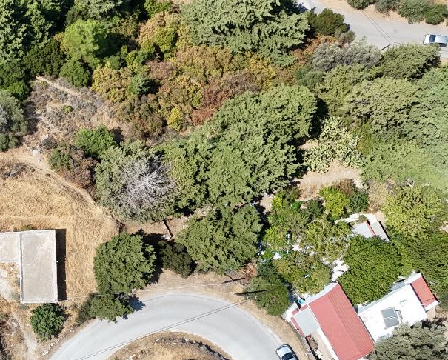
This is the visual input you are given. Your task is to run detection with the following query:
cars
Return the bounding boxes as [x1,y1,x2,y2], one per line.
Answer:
[276,344,295,360]
[419,32,448,47]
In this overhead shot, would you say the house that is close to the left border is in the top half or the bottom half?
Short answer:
bottom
